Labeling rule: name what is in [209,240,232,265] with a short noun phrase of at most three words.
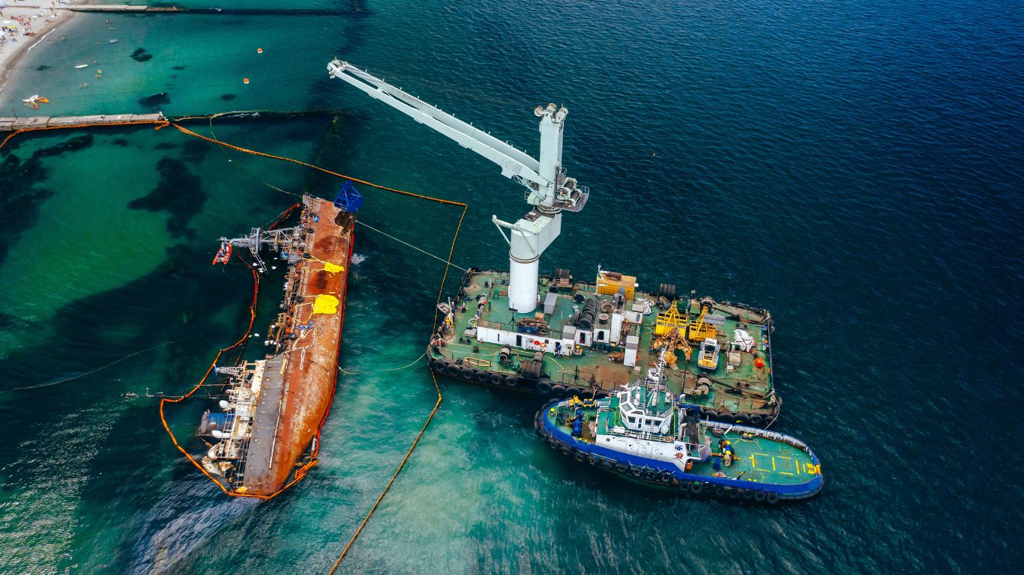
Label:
boat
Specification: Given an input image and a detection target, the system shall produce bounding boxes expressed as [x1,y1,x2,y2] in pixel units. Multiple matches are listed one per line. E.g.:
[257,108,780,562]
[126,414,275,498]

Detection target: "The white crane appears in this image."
[325,58,592,312]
